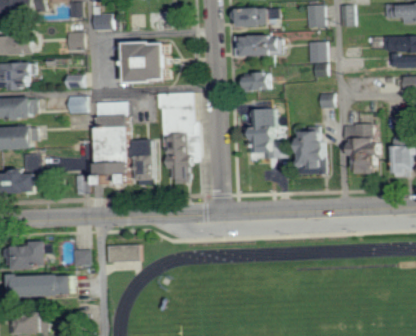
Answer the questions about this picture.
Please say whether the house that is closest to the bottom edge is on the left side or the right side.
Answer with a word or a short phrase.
left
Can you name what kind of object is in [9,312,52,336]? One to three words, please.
house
